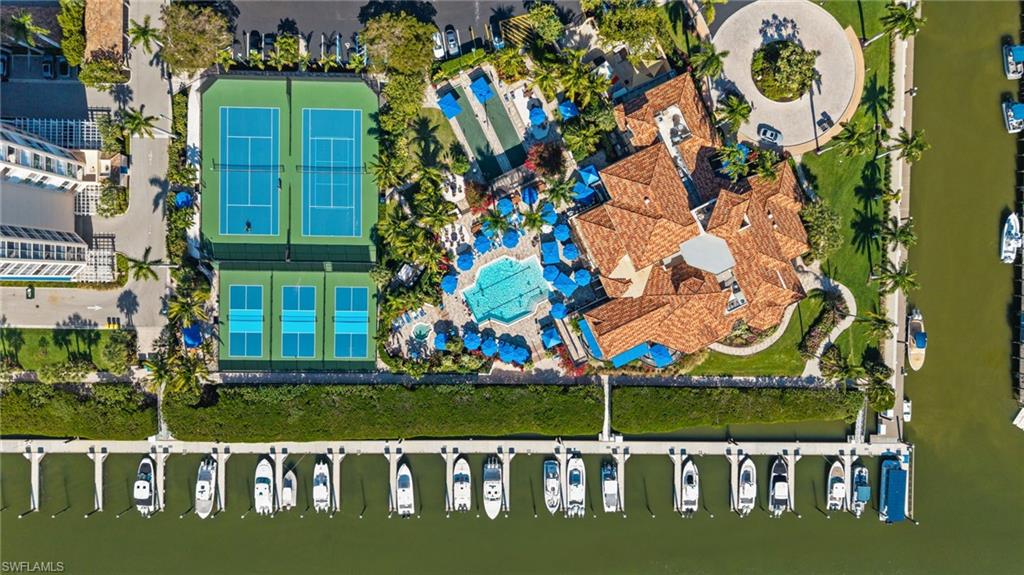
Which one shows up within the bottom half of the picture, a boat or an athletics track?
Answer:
boat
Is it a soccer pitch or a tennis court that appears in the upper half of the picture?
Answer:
tennis court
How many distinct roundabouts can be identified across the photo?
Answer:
1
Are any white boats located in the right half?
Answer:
Yes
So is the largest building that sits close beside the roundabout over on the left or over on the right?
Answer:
right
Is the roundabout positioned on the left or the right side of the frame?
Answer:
right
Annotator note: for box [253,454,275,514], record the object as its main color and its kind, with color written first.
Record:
white boat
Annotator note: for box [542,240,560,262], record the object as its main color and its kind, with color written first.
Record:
blue tent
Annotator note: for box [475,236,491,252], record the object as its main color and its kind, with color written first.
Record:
blue umbrella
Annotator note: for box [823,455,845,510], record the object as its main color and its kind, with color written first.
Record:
white boat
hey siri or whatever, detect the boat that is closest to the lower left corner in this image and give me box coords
[131,455,156,513]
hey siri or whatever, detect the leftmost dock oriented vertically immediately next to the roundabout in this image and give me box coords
[870,0,920,441]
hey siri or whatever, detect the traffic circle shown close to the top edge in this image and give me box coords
[710,2,861,152]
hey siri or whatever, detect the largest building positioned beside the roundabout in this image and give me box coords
[576,72,810,368]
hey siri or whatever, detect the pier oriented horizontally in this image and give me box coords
[0,440,916,520]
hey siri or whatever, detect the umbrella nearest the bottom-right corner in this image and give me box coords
[649,344,674,367]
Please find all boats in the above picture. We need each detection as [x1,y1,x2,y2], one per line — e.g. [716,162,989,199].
[397,455,415,517]
[999,95,1024,135]
[996,213,1020,265]
[601,463,617,512]
[905,310,927,371]
[131,455,156,513]
[738,454,756,514]
[482,457,502,520]
[874,457,906,524]
[852,466,870,512]
[567,456,586,513]
[253,454,275,514]
[543,454,560,515]
[453,457,471,514]
[823,455,845,510]
[197,456,217,518]
[766,454,788,515]
[313,454,331,512]
[682,455,698,515]
[283,454,299,510]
